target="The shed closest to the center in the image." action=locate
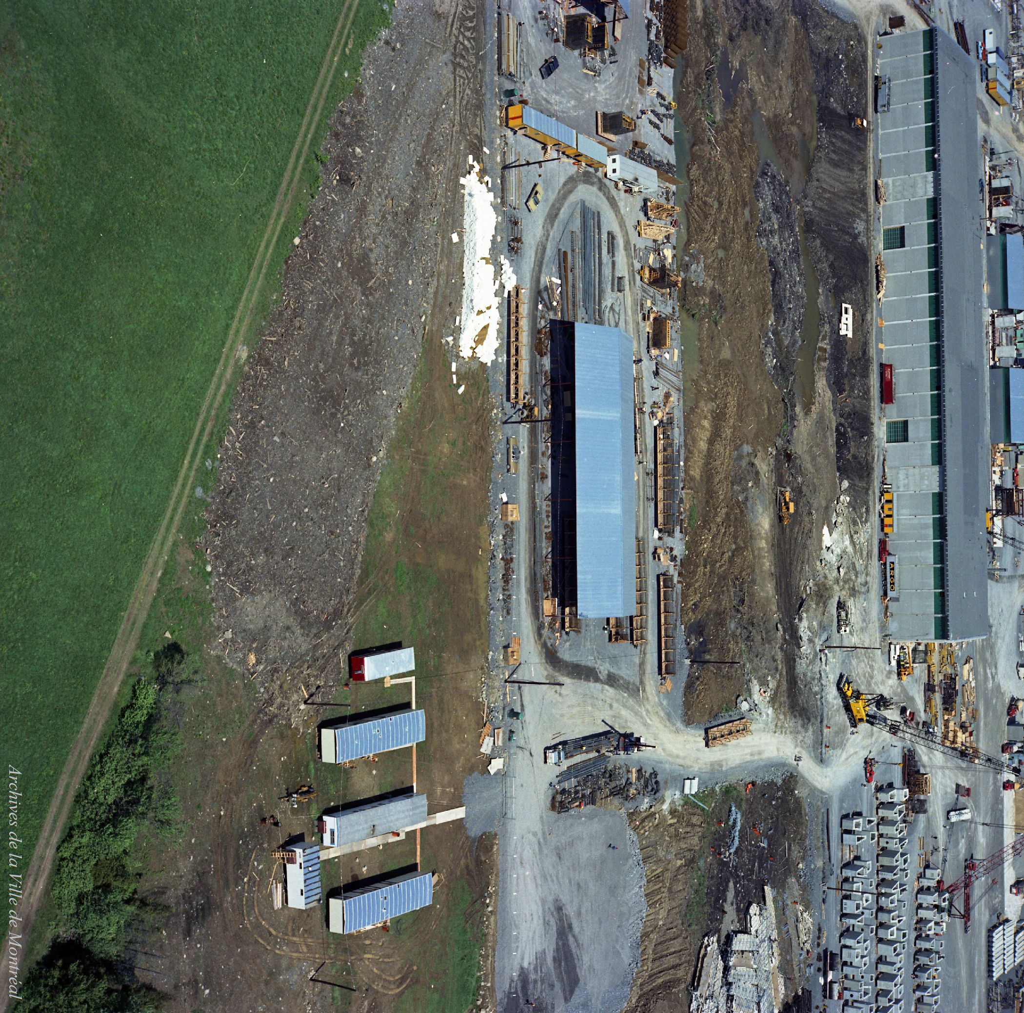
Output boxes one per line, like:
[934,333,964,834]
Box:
[543,319,638,621]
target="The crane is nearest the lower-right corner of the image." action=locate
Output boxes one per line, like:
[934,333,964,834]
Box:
[947,831,1024,922]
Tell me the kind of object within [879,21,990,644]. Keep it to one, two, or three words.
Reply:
building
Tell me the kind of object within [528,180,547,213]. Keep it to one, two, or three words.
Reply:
car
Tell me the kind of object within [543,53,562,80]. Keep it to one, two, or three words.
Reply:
vehicle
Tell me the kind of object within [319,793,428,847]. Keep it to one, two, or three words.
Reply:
trailer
